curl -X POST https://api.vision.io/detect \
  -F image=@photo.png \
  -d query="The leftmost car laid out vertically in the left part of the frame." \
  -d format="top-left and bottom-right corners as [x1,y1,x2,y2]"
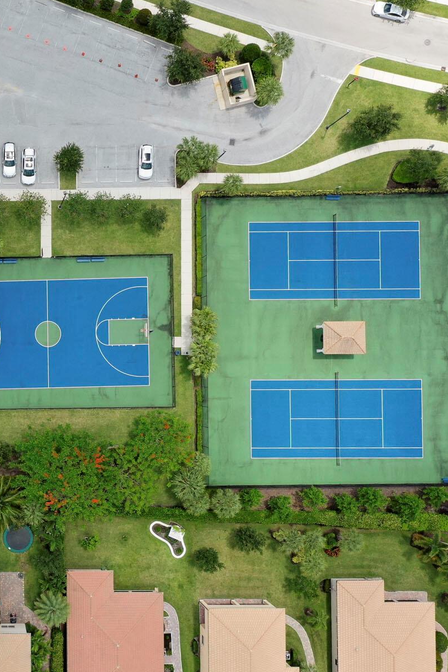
[1,140,17,177]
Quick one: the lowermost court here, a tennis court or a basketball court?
tennis court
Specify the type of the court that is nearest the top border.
tennis court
